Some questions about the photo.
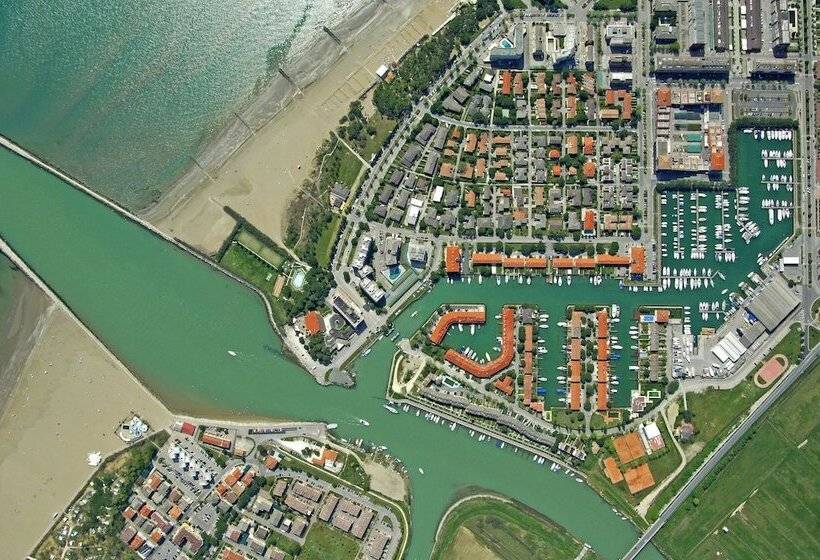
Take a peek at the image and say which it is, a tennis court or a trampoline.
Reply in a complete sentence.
There is a tennis court in the scene.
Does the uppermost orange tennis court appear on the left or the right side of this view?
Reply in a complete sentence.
You can find the uppermost orange tennis court on the right side of the picture.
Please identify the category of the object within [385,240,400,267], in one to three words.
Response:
building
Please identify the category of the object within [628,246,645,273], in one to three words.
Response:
house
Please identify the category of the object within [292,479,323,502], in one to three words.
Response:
house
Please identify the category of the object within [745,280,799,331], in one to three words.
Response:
shed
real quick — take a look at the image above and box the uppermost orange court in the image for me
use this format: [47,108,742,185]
[614,433,645,462]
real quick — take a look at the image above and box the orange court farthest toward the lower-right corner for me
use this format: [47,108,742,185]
[625,465,655,493]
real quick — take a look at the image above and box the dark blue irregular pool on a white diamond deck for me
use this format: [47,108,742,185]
[385,260,406,279]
